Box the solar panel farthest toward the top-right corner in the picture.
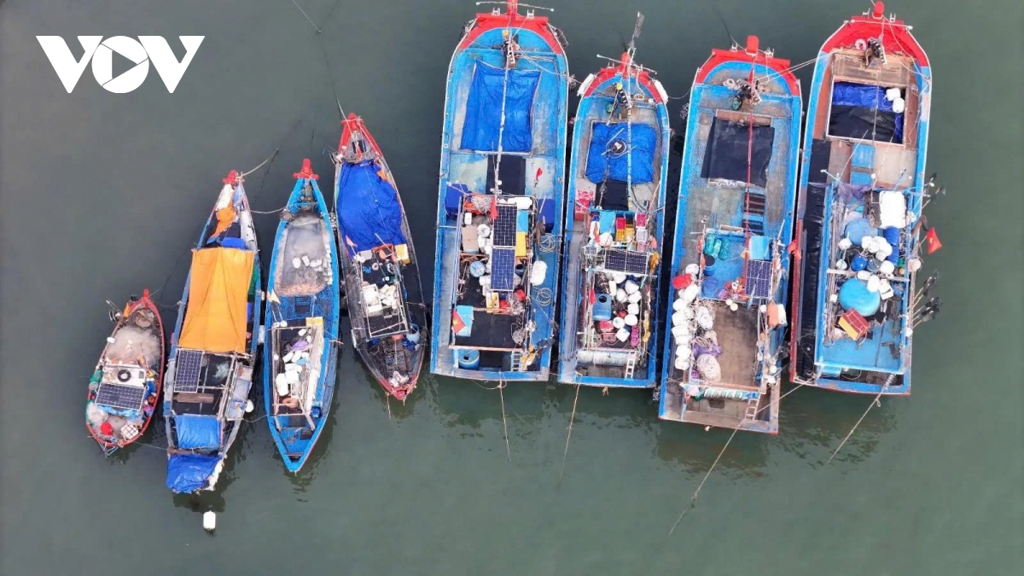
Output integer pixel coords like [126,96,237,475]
[745,258,771,300]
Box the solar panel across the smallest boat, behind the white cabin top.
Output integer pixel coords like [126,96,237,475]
[94,382,146,412]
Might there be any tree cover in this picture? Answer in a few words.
No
